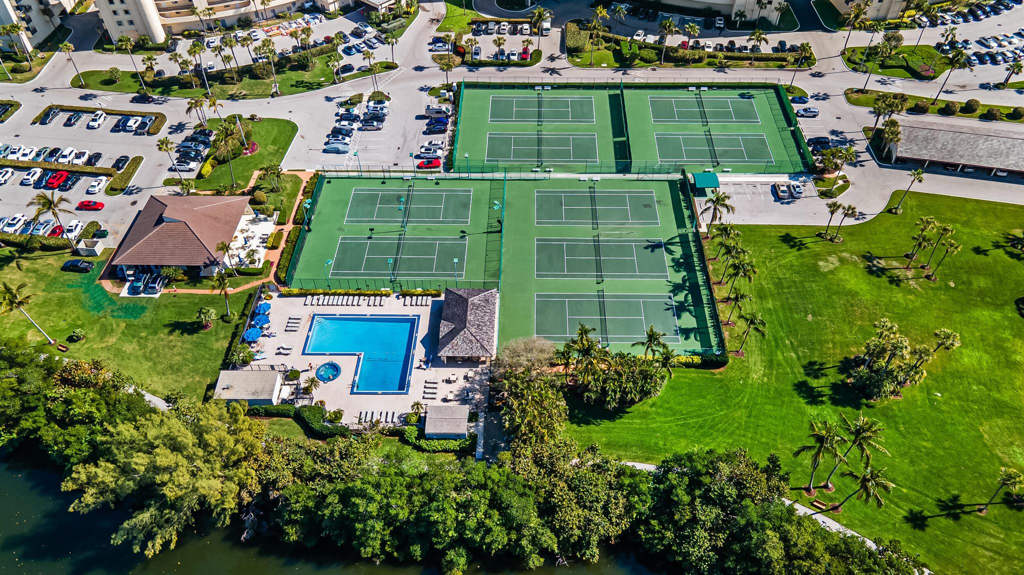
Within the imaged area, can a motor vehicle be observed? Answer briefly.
Yes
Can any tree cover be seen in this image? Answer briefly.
Yes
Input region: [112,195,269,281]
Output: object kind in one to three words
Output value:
building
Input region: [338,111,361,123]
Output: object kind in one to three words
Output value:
vehicle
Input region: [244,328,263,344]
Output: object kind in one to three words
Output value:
umbrella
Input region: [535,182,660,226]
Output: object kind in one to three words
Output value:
tennis court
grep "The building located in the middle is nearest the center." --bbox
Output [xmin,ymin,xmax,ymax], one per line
[438,288,496,366]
